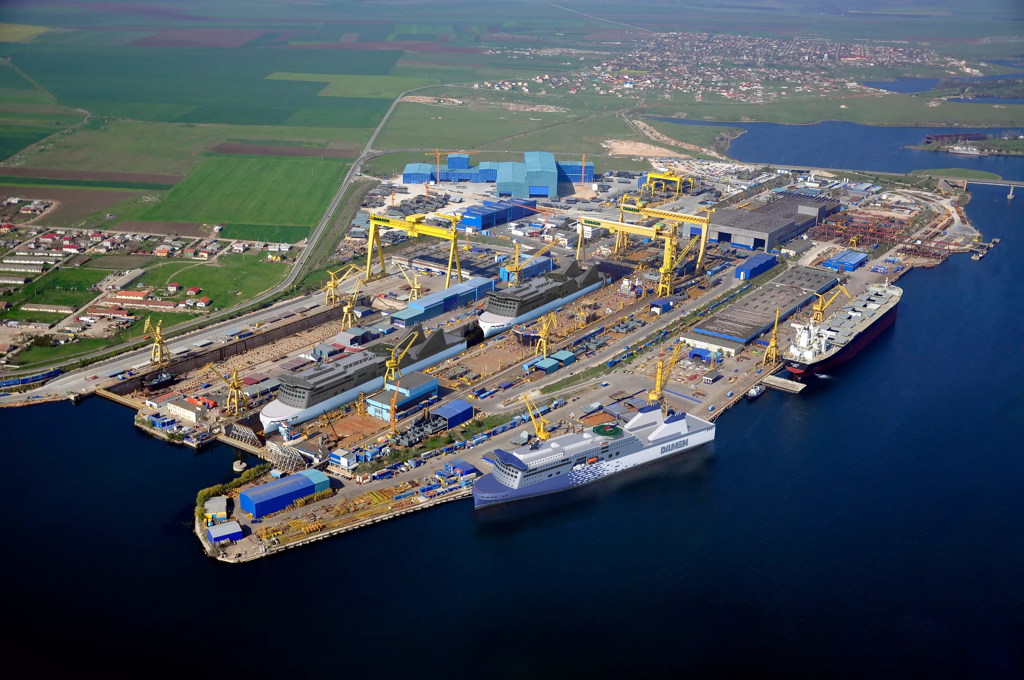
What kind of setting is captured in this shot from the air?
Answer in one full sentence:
The area seen from above is a port.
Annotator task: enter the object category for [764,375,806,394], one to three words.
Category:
pier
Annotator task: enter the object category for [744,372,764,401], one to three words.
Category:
boat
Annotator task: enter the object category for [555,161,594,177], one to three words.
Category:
building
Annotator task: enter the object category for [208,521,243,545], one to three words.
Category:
shed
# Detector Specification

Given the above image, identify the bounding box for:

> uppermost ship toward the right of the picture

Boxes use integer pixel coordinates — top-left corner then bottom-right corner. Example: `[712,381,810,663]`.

[945,144,988,156]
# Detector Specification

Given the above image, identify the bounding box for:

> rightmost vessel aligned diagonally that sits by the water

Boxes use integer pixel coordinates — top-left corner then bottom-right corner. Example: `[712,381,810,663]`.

[786,274,904,378]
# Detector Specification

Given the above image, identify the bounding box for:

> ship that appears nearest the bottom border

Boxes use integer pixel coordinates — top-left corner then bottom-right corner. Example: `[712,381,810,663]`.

[472,402,716,505]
